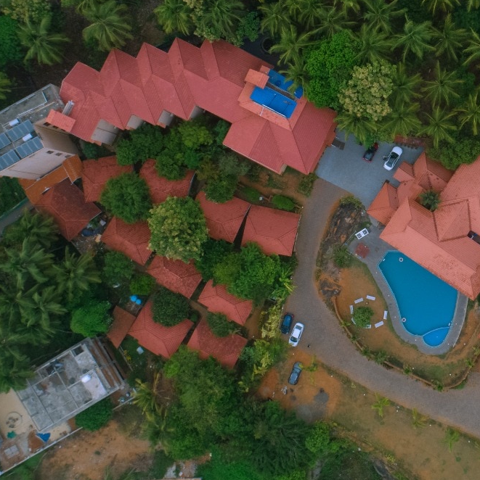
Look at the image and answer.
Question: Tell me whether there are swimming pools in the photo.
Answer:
Yes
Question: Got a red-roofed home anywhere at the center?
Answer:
Yes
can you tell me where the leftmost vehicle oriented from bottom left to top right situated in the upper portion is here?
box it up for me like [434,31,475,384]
[361,141,380,163]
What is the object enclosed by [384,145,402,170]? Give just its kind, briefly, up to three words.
car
